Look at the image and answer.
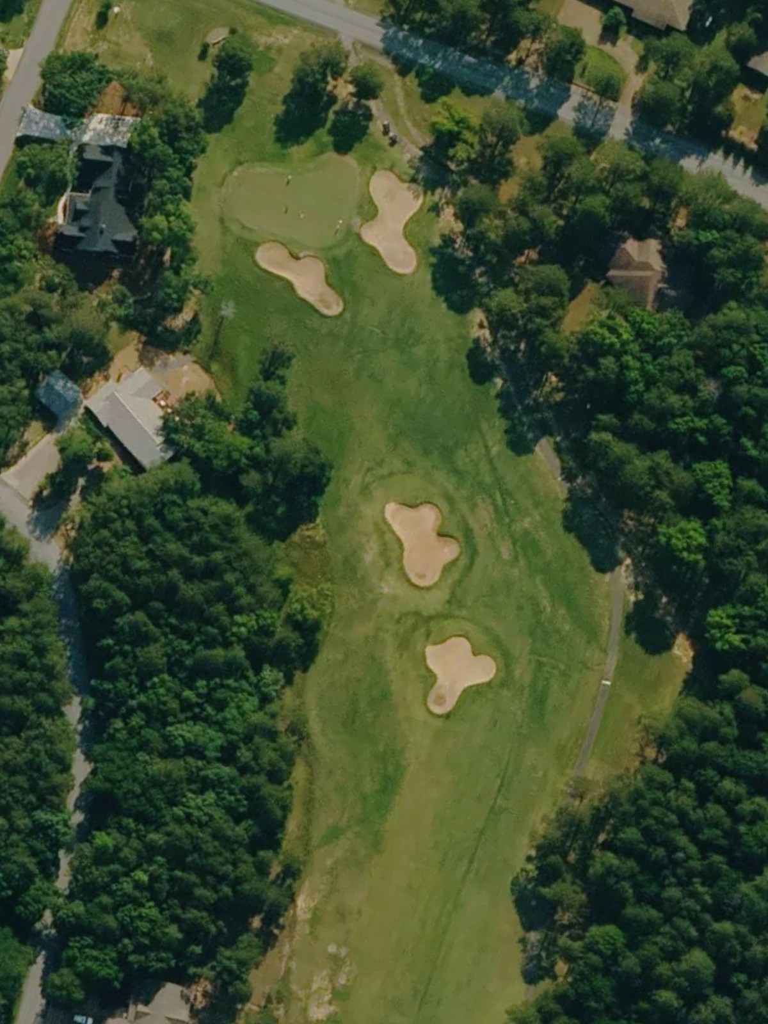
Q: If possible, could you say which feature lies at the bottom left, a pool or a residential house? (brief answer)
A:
residential house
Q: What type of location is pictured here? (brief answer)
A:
golf course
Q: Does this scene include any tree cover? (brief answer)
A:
Yes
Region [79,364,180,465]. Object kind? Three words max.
house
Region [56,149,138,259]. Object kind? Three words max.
house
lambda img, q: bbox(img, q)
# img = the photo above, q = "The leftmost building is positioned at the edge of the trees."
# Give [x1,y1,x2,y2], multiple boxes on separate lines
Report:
[38,373,81,418]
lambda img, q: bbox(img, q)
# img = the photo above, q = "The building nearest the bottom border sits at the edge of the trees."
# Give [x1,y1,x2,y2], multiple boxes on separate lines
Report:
[100,977,197,1024]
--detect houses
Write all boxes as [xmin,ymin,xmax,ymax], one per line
[745,44,768,78]
[608,0,698,35]
[79,364,180,465]
[56,149,138,259]
[605,239,661,315]
[100,977,197,1024]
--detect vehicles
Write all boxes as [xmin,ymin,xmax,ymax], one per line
[72,1016,93,1024]
[383,120,389,130]
[389,132,397,142]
